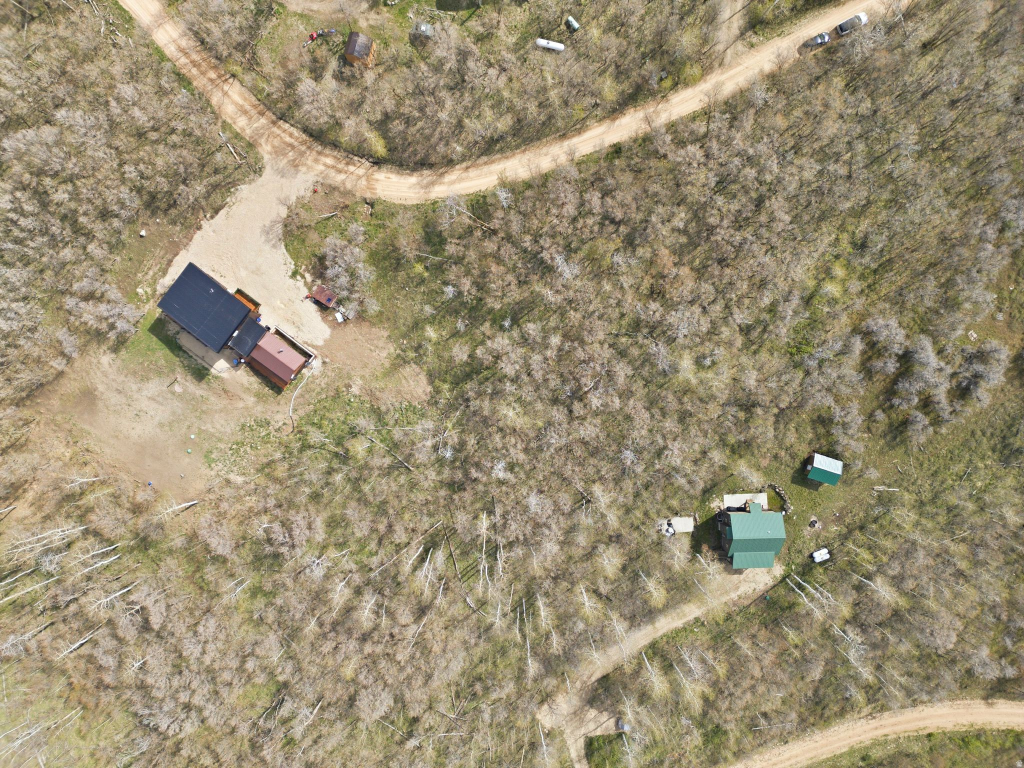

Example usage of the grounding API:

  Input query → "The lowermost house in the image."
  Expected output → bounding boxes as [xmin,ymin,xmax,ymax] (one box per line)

[714,501,786,568]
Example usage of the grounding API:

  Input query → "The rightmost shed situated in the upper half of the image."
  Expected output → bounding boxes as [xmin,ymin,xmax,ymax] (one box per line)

[411,22,436,43]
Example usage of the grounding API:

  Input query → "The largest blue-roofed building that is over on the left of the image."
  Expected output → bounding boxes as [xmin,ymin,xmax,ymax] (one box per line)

[158,263,254,353]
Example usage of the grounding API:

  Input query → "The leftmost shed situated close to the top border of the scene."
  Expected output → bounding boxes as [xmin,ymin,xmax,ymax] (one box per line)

[344,32,375,66]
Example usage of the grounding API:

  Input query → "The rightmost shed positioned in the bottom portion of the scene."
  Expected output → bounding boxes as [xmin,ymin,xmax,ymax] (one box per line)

[802,451,843,487]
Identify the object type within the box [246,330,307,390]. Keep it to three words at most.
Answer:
building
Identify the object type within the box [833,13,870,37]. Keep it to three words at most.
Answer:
truck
